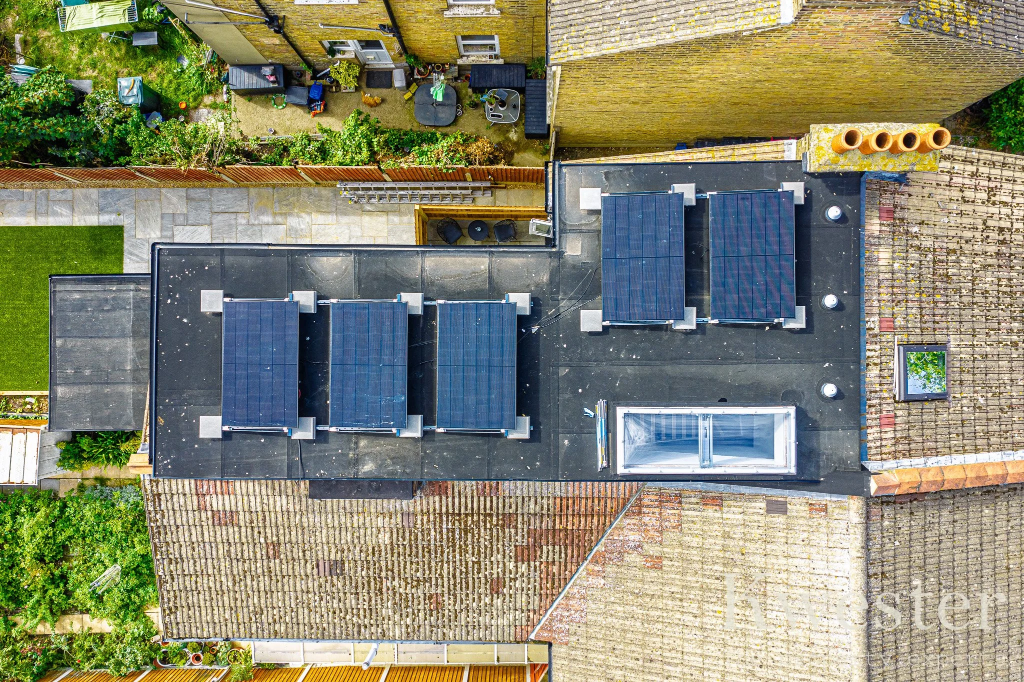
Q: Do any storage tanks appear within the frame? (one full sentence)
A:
No, no storage tank can be seen from above.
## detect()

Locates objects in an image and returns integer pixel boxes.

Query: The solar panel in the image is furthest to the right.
[708,187,796,324]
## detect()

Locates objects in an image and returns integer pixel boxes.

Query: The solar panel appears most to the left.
[221,296,302,433]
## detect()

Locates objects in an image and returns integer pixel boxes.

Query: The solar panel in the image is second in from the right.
[601,188,685,326]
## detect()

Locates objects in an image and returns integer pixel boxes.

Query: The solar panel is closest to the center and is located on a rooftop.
[436,298,518,434]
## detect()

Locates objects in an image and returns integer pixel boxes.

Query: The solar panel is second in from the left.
[329,297,409,433]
